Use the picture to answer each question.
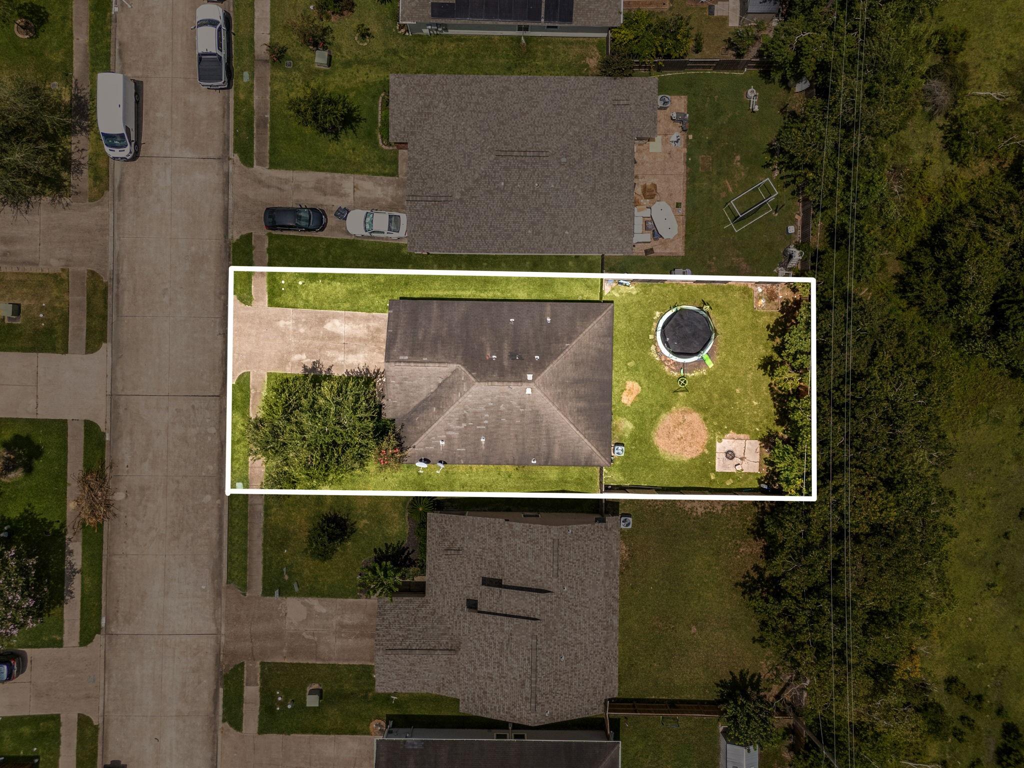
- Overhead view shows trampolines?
Yes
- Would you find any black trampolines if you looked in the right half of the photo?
Yes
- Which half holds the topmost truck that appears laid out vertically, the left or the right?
left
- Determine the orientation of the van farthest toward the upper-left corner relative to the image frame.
up and down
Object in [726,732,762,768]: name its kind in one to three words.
shed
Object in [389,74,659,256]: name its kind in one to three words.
house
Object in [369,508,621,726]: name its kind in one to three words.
house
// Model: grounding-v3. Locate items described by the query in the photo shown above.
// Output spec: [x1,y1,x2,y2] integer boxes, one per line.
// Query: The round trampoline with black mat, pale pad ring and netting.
[656,303,719,383]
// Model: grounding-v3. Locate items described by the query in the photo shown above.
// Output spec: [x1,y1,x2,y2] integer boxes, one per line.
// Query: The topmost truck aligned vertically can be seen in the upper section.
[191,6,230,92]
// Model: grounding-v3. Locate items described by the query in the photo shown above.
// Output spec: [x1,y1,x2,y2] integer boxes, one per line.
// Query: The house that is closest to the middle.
[386,300,615,474]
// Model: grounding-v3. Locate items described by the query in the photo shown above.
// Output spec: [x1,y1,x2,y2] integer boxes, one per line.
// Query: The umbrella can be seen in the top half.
[651,202,677,239]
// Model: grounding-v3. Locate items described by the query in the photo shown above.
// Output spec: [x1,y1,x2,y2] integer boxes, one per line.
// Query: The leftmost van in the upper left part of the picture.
[96,73,140,162]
